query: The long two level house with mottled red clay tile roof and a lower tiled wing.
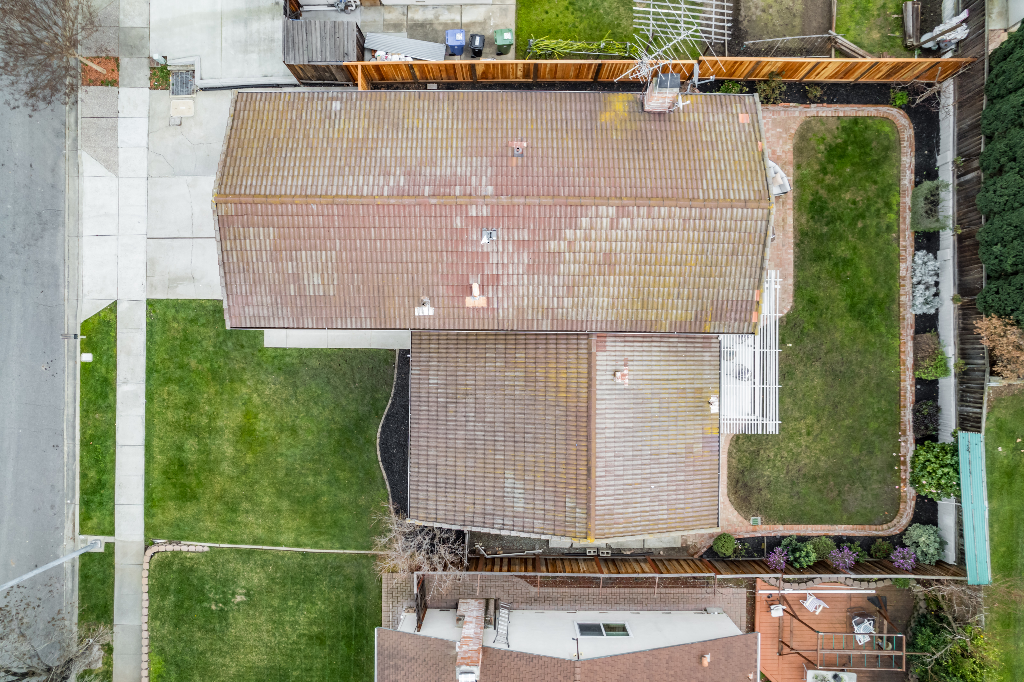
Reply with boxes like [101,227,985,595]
[209,72,774,546]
